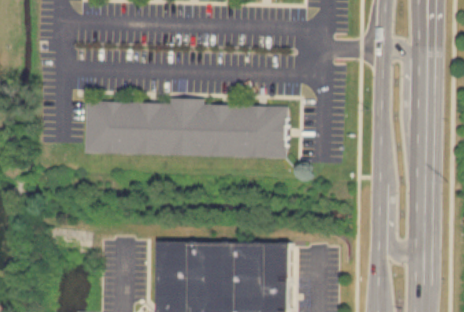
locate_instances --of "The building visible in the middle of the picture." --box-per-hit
[83,98,292,158]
